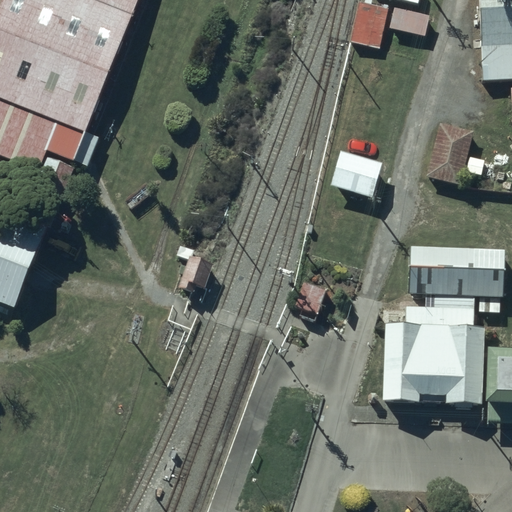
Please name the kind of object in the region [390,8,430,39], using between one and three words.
shed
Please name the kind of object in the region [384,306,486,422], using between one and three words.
building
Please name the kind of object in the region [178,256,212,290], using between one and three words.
house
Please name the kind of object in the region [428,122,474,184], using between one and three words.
house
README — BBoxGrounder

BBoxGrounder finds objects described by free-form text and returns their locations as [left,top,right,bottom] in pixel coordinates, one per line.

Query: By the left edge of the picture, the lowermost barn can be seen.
[0,220,42,319]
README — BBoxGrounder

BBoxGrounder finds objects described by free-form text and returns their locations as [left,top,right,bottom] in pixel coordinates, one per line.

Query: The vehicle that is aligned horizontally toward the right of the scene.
[348,141,378,157]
